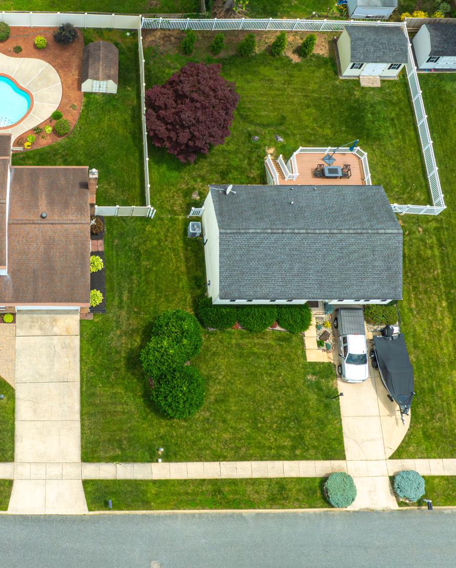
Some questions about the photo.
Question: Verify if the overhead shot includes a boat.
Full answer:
Yes, there's a boat down there.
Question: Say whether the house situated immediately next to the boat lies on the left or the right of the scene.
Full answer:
The house situated immediately next to the boat appears in the right half of the scene.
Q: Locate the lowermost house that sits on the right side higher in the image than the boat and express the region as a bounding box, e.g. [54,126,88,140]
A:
[204,183,404,304]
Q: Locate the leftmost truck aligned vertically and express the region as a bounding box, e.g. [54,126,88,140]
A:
[335,303,373,382]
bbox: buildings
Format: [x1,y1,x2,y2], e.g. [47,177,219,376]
[0,132,99,315]
[204,183,404,304]
[411,24,456,72]
[332,26,411,90]
[346,0,399,17]
[82,37,119,92]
